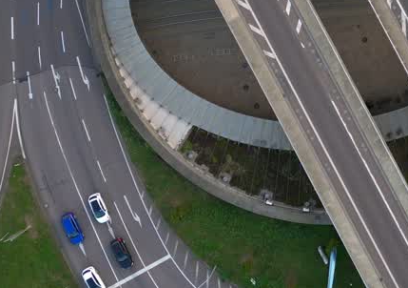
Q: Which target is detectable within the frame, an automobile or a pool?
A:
automobile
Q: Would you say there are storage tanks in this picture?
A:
No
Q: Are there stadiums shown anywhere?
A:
No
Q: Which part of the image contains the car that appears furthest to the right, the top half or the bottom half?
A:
bottom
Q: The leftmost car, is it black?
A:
No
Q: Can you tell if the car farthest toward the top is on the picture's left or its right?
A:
left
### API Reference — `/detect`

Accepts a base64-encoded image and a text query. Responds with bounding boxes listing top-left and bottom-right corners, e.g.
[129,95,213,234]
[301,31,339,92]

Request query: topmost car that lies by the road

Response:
[84,192,108,223]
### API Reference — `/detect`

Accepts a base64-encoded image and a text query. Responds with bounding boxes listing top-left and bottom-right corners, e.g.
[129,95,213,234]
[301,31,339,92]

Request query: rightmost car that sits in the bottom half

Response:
[108,237,132,268]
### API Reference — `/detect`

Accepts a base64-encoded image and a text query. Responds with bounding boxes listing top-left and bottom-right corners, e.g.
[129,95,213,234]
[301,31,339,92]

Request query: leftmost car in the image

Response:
[61,212,84,244]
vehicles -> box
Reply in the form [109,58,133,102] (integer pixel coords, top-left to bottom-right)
[108,237,132,268]
[80,267,106,288]
[61,212,84,244]
[84,192,108,223]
